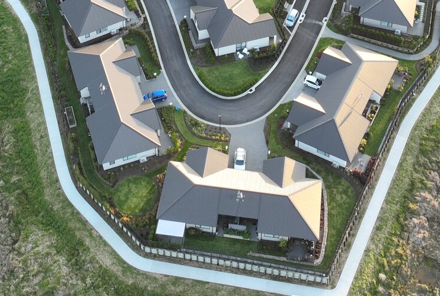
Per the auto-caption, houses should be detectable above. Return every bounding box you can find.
[179,0,274,55]
[338,0,417,33]
[61,0,140,43]
[274,39,398,167]
[67,36,181,169]
[155,140,322,250]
